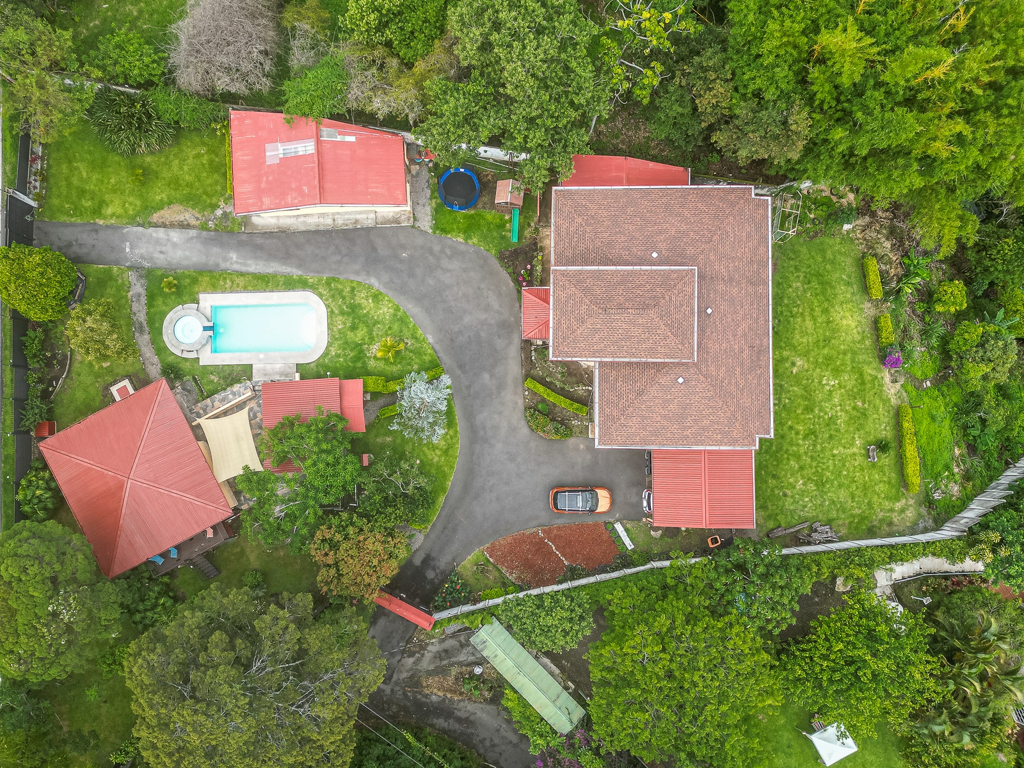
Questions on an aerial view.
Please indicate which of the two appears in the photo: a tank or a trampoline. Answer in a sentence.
There is a trampoline in the scene.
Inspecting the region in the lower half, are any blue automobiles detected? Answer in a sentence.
No, there's no blue automobile to be seen in the lower half.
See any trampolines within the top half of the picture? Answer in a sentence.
Yes, a trampoline appears within the top half of the picture.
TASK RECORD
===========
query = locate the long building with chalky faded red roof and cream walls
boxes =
[230,110,413,231]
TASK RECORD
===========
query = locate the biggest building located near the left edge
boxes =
[38,377,240,580]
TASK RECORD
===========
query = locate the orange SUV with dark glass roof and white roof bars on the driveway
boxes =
[547,483,612,517]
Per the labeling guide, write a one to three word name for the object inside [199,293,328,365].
swimming pool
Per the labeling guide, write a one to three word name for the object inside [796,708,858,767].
tent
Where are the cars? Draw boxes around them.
[643,450,651,475]
[641,486,652,514]
[547,483,612,517]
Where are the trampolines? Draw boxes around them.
[436,161,482,218]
